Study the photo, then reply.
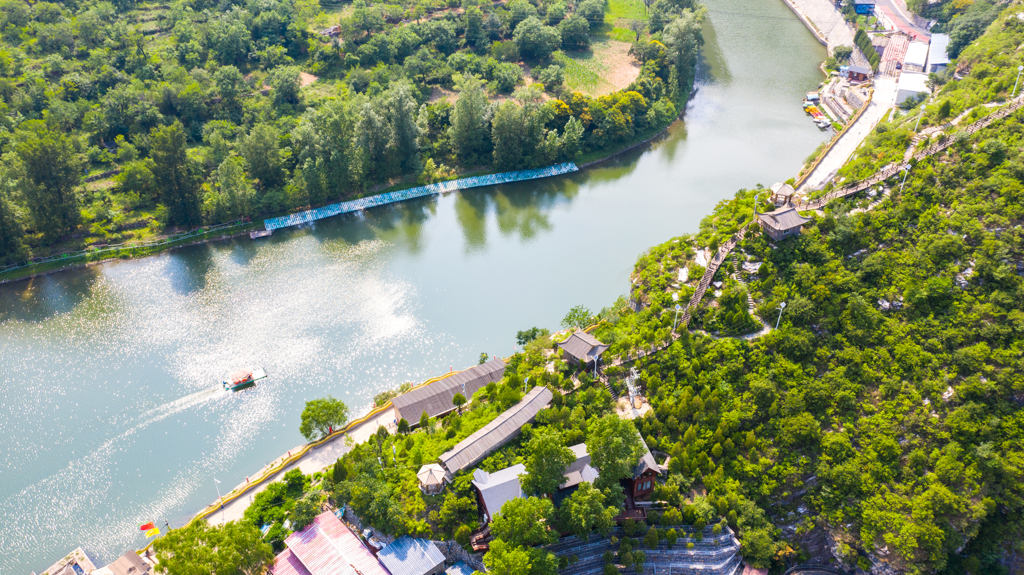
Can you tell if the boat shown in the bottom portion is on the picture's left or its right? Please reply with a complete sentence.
The boat shown in the bottom portion is on the left side of the image.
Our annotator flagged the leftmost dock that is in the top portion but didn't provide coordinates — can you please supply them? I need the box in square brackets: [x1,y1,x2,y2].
[264,162,579,230]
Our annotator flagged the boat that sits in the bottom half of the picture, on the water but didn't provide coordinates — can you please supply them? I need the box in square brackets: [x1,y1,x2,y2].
[222,368,272,392]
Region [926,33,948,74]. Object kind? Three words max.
building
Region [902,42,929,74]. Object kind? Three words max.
building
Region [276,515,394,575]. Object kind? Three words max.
shed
